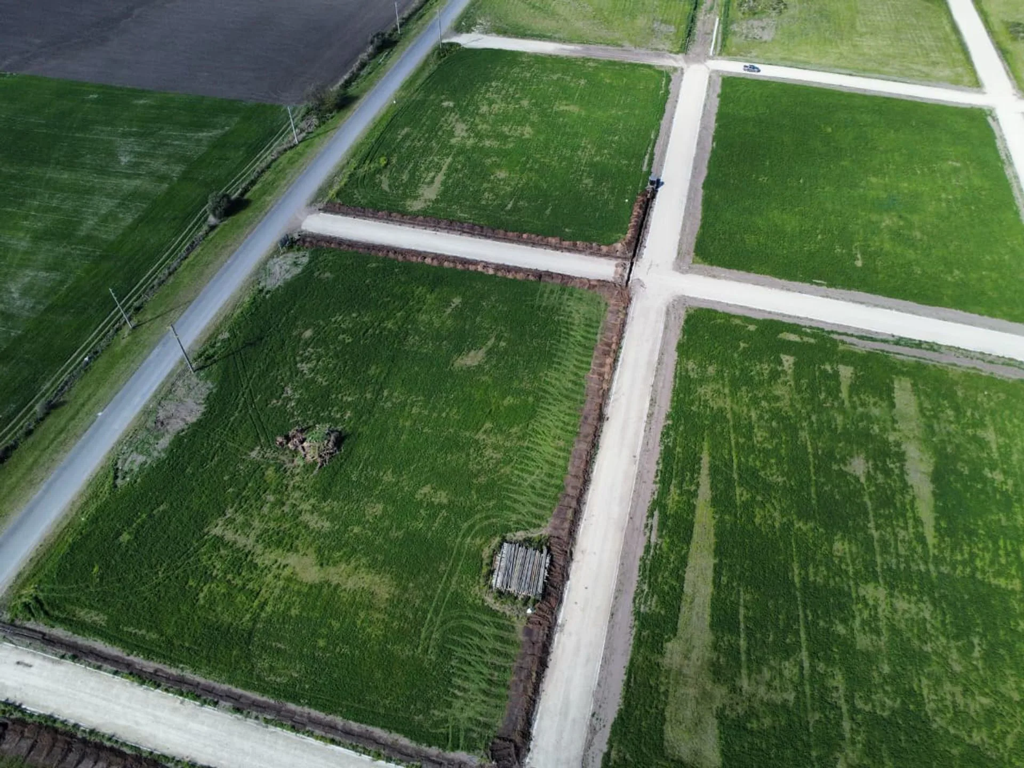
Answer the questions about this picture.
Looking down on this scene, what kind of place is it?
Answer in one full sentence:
It's farmland.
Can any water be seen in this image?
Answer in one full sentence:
No, the scene doesn't show any water.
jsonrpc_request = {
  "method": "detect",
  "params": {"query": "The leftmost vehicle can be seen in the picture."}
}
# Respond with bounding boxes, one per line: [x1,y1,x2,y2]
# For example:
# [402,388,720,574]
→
[648,172,661,194]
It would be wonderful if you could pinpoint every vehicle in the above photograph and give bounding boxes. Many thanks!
[742,63,762,72]
[648,172,661,194]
